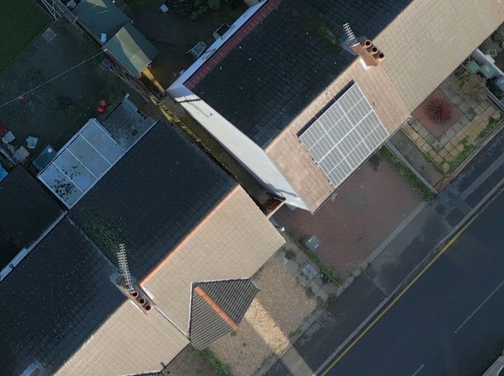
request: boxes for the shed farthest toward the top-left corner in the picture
[72,0,130,43]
